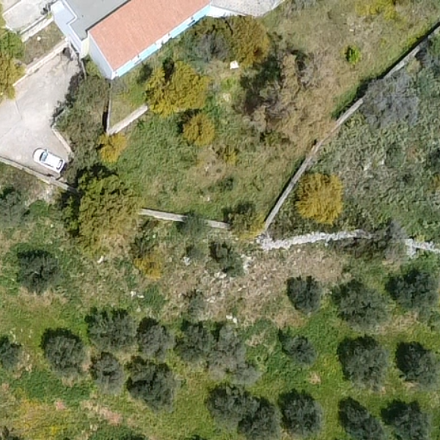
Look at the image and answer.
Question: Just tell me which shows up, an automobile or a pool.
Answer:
automobile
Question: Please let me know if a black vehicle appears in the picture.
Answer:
No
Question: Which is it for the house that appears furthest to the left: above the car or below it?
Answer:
above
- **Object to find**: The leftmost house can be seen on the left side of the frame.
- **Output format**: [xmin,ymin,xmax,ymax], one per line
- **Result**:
[51,0,83,60]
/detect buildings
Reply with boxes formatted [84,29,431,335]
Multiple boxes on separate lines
[51,0,83,60]
[85,0,212,81]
